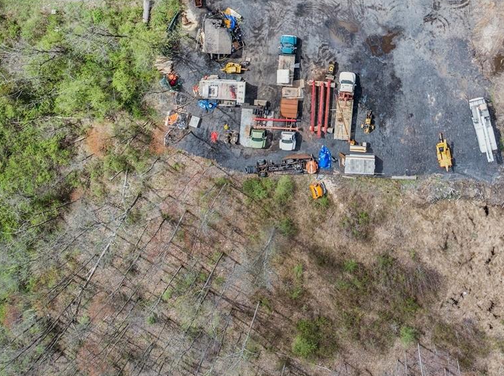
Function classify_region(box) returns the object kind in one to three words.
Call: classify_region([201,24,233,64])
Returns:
shed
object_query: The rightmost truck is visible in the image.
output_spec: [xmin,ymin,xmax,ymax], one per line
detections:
[469,94,497,164]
